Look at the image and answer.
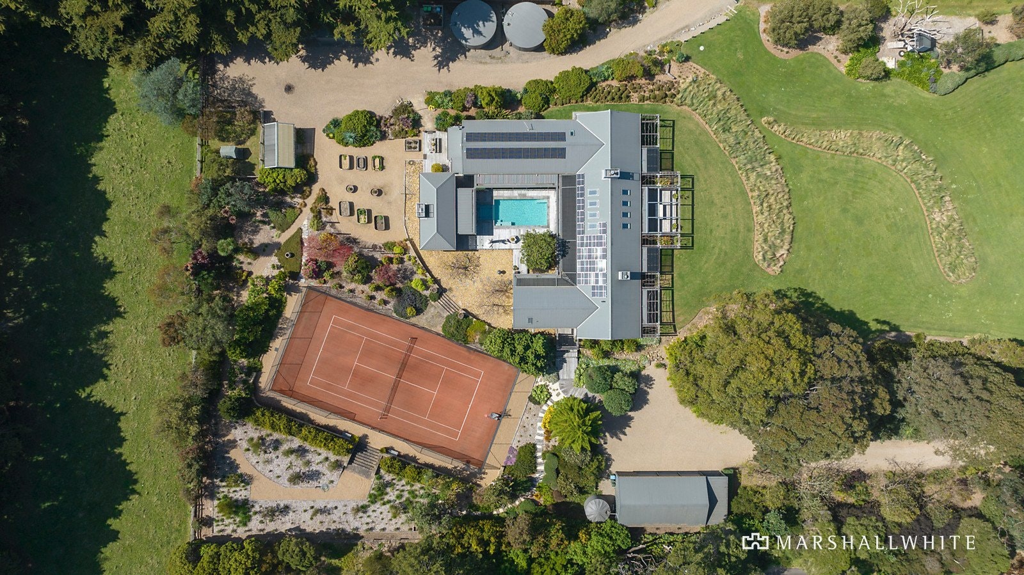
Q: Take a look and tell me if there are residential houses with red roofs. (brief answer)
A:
No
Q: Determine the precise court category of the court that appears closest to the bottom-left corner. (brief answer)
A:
tennis court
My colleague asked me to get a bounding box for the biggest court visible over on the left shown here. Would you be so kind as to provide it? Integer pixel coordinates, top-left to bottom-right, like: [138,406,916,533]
[270,289,518,467]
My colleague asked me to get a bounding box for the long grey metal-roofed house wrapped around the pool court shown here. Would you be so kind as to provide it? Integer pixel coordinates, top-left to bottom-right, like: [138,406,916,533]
[448,107,642,350]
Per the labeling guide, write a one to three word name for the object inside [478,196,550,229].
swimming pool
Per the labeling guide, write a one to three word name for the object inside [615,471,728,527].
shed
